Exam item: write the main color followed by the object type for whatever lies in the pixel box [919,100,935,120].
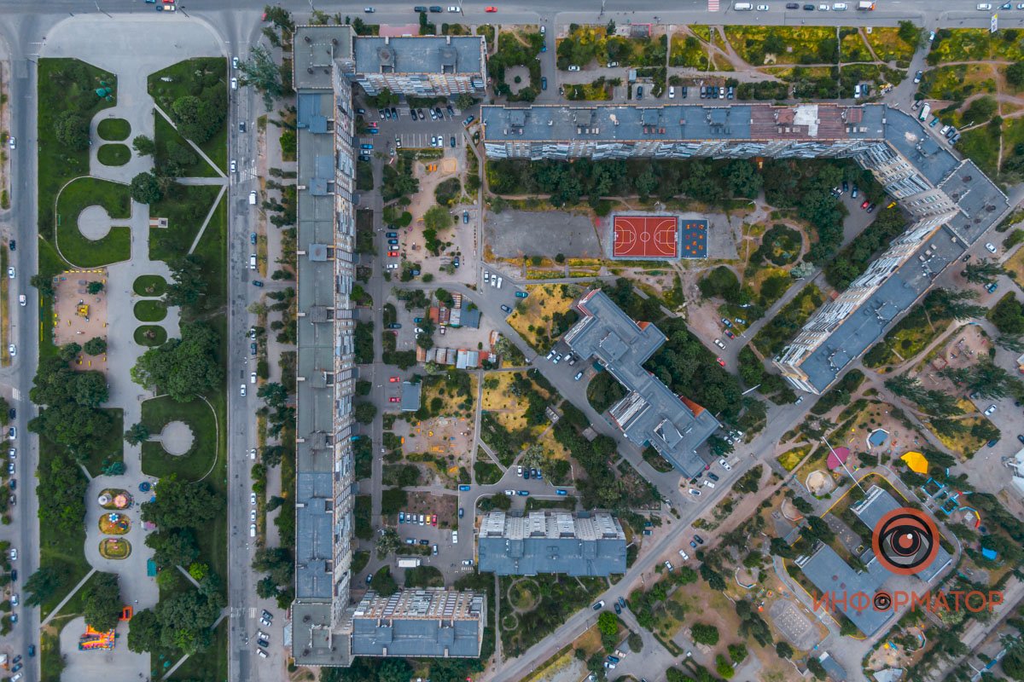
white vehicle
